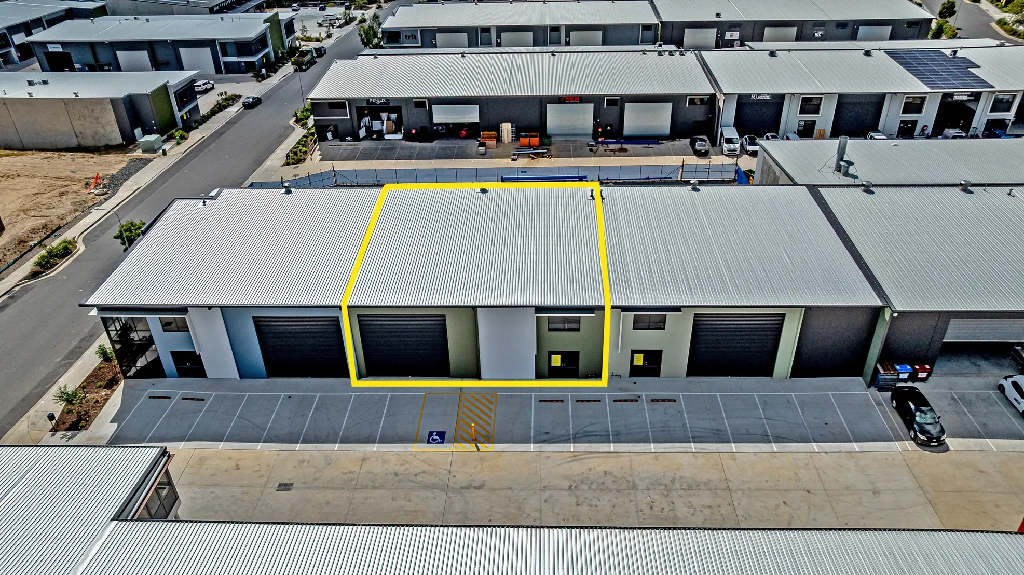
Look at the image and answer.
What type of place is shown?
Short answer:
industrial area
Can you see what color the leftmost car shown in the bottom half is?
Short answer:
black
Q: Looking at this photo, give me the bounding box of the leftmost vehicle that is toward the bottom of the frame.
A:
[890,386,949,444]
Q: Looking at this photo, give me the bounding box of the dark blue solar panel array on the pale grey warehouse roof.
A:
[883,47,992,88]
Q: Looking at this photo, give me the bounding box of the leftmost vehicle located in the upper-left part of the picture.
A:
[195,80,219,93]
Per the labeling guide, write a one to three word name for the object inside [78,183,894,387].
warehouse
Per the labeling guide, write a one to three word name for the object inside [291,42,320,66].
truck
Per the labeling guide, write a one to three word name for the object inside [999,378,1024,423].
car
